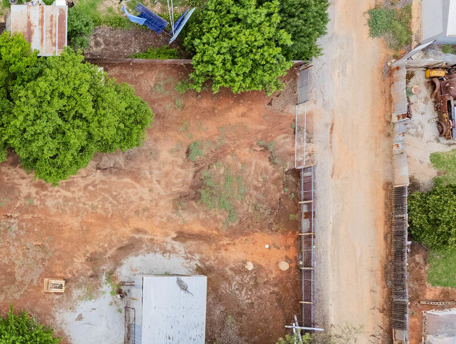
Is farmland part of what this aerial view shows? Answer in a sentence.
No, farmland can't be seen anywhere here.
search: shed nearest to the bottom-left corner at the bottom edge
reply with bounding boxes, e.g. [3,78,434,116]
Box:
[128,274,208,344]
